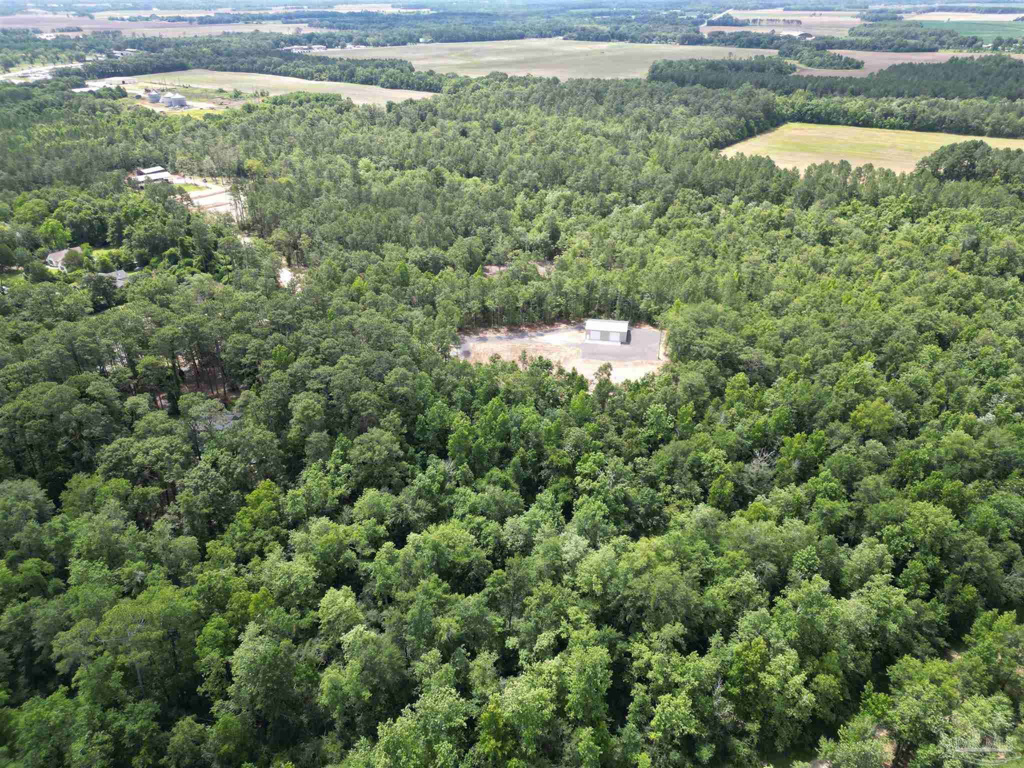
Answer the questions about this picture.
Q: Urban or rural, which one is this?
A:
rural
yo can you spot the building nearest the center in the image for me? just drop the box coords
[584,316,628,343]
